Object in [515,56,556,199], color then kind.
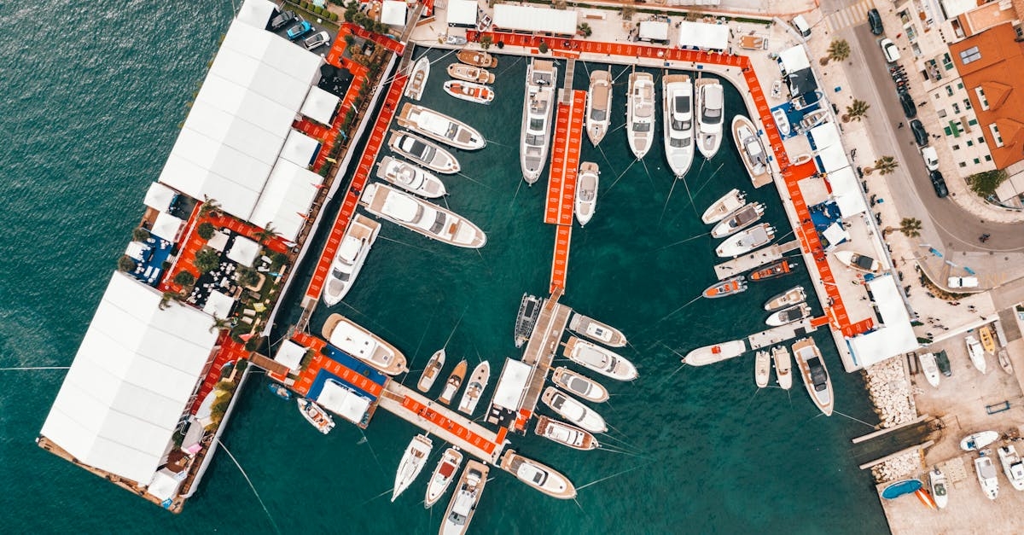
white boat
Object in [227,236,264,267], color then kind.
white tent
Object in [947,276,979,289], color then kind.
white vehicle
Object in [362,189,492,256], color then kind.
white boat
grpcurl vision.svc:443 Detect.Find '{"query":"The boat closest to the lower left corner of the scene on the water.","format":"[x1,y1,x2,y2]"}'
[268,384,293,400]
